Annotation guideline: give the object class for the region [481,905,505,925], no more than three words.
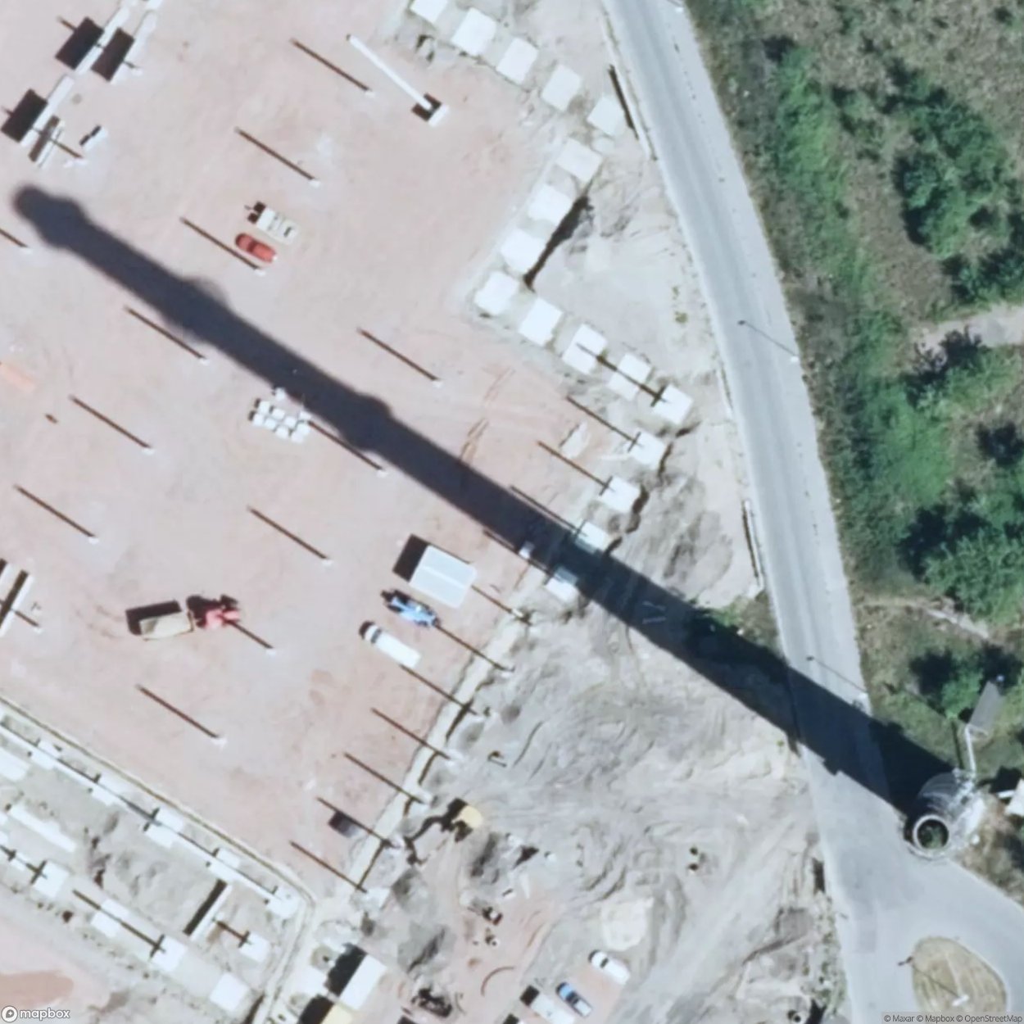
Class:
work vehicle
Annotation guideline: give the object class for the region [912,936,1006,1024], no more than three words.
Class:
roundabout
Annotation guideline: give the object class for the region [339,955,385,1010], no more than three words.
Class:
building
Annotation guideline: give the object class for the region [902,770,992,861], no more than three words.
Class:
chimney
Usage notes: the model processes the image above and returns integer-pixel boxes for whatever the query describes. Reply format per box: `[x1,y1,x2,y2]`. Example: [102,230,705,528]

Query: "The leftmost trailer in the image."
[140,611,199,639]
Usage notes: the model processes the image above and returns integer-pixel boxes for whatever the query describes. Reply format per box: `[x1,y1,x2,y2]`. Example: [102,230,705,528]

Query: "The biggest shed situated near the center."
[410,545,476,607]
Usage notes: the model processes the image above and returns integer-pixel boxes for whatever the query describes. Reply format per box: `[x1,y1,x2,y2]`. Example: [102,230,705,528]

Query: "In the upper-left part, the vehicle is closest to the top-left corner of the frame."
[232,230,279,266]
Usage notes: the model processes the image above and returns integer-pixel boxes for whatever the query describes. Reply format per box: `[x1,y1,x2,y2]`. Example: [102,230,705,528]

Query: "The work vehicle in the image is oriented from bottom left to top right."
[413,800,481,869]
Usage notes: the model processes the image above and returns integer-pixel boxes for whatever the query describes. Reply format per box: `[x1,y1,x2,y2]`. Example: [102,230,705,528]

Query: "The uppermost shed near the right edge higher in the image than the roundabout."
[968,683,1005,731]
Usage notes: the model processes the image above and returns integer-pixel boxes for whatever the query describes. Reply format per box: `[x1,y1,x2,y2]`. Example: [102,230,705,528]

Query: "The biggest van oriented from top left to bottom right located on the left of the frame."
[360,619,425,671]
